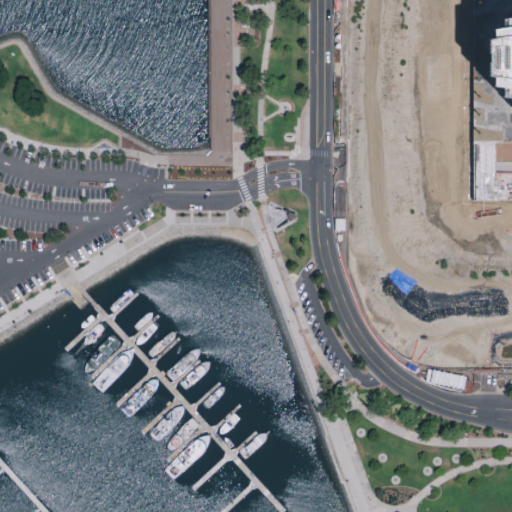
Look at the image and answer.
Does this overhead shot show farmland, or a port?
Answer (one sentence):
This image shows a port.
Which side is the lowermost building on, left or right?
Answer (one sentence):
The lowermost building appears in the right half of the scene.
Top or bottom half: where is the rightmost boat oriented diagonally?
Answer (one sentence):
The bottom half of the photo is where the rightmost boat oriented diagonally is.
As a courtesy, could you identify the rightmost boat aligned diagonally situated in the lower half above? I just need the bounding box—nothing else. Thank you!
[239,431,268,459]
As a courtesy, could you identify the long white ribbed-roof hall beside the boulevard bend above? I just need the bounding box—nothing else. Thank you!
[426,370,469,392]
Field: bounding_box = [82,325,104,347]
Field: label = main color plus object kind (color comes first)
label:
white boat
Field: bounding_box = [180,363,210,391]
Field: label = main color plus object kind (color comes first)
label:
white boat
